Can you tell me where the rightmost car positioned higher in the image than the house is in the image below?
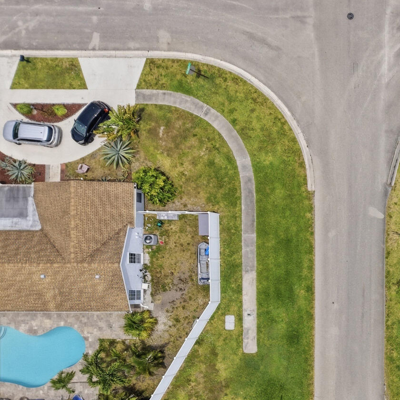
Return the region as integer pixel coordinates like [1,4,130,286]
[70,97,109,147]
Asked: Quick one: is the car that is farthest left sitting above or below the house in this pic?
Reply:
above it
